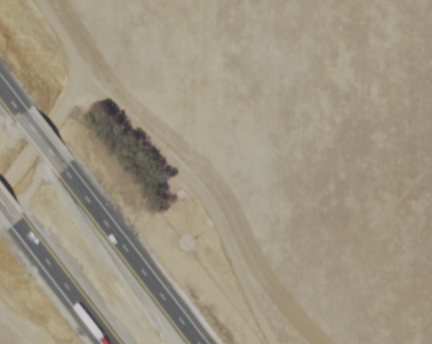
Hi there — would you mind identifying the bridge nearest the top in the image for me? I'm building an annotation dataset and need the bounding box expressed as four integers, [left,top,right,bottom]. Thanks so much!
[11,102,78,178]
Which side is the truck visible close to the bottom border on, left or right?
left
